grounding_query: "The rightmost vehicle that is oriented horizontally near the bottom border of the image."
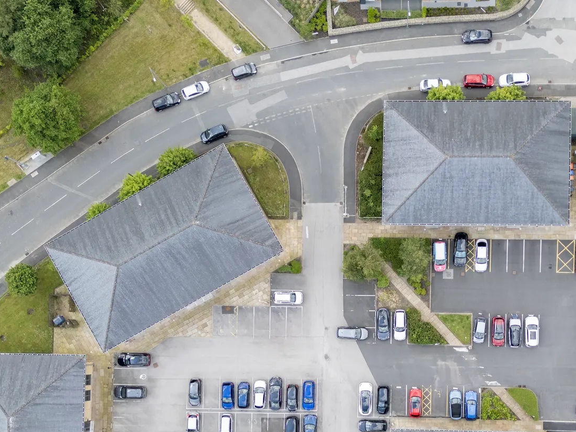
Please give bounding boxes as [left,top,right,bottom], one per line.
[358,419,388,432]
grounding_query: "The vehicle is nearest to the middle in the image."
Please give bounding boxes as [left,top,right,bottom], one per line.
[273,290,303,304]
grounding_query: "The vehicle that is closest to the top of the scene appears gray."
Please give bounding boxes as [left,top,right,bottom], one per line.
[461,28,493,44]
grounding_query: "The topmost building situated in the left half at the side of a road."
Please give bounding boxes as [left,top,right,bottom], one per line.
[42,142,285,354]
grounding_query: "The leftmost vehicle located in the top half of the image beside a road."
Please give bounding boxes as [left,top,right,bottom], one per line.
[151,93,181,112]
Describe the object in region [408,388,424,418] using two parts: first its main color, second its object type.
red car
